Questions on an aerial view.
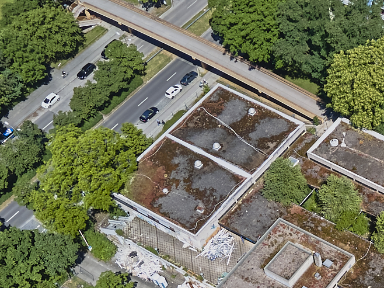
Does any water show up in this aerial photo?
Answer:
No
